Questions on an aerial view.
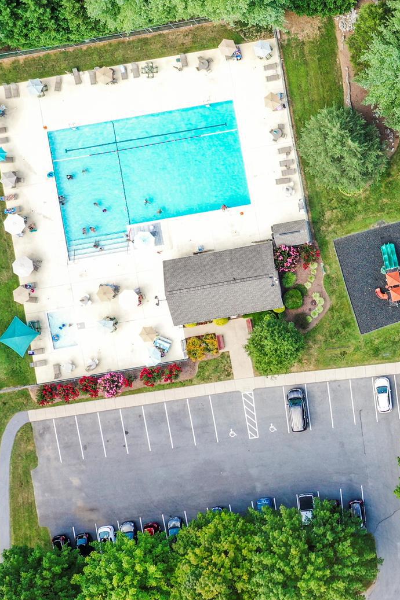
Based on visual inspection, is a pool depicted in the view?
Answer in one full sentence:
Yes, the image includes a pool.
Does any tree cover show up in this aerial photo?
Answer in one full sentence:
Yes, the picture does contain tree cover.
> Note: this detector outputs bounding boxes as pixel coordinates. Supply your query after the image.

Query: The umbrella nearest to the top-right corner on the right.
[253,38,274,59]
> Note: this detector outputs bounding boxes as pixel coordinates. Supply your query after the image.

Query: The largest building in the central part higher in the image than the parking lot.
[159,241,284,325]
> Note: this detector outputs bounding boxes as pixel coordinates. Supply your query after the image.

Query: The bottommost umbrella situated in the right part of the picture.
[263,90,282,111]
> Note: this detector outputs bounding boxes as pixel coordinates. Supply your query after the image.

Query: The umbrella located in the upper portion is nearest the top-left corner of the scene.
[26,76,46,97]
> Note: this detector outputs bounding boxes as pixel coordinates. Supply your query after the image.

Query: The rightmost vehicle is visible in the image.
[374,376,393,412]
